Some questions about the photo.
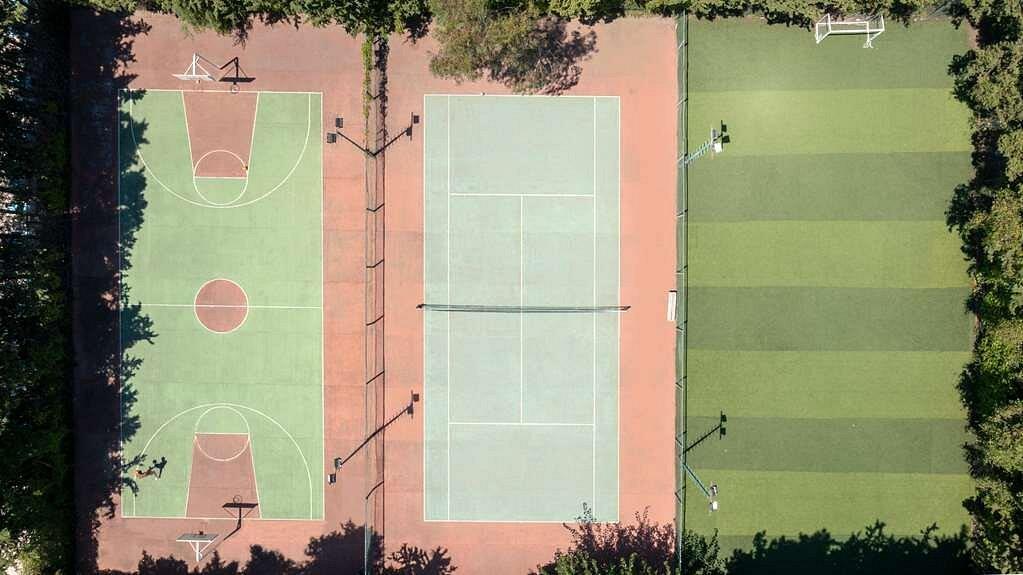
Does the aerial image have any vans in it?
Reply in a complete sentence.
No, the scene contains no van.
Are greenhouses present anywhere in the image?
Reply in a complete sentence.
No, there's no greenhouse here.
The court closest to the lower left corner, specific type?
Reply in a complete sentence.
I'd say the court closest to the lower left corner is a basketball court.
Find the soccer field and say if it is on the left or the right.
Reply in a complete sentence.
The soccer field is on the right side of the image.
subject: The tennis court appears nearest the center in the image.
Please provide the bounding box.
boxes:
[424,96,621,522]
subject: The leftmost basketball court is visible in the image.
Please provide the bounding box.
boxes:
[119,91,323,519]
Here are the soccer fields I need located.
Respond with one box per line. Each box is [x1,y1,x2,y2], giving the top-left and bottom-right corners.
[674,18,974,575]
